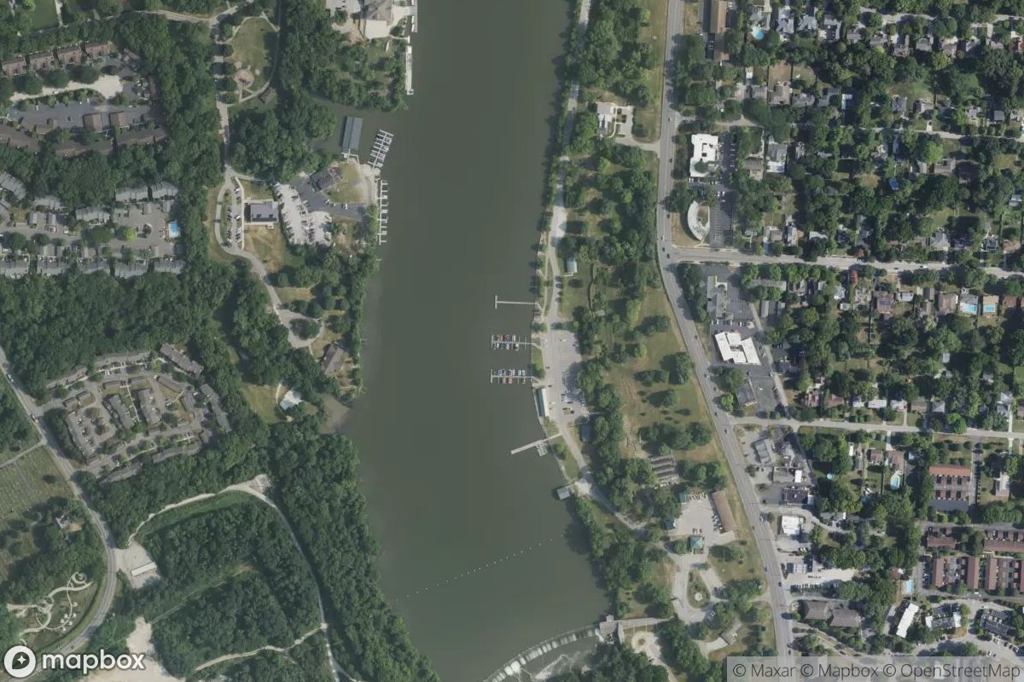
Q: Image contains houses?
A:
Yes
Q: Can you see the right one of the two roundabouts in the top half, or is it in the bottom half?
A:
bottom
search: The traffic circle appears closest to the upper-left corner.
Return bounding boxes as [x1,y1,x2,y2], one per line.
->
[278,309,325,348]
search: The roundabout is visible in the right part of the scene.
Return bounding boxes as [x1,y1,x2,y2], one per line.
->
[673,556,724,625]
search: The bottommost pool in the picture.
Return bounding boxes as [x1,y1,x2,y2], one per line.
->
[902,578,914,595]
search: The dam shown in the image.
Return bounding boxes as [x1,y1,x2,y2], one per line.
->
[481,623,600,682]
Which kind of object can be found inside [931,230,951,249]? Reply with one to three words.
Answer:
house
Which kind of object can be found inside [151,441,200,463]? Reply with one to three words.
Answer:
building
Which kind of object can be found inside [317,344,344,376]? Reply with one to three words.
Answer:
house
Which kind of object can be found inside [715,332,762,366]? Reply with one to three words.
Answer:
building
